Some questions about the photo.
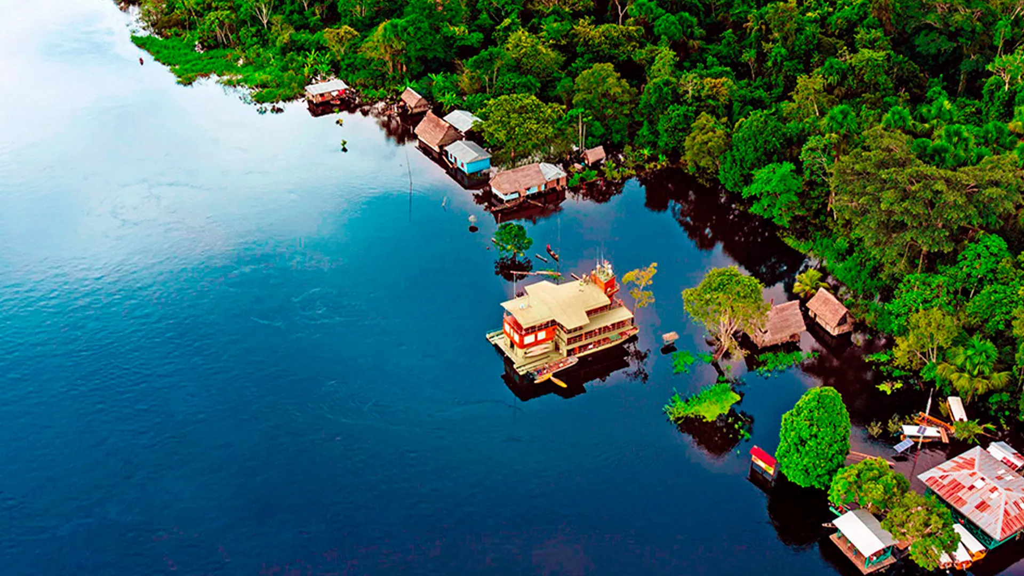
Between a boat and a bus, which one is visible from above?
boat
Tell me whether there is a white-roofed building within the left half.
Yes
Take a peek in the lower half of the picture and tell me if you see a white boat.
Yes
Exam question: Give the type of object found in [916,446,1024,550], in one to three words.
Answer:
house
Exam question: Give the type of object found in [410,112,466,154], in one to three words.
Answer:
shed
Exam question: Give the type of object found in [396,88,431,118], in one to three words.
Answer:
shed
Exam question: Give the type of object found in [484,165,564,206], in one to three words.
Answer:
house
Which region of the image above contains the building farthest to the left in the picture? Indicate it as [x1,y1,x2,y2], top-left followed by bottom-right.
[306,81,353,105]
